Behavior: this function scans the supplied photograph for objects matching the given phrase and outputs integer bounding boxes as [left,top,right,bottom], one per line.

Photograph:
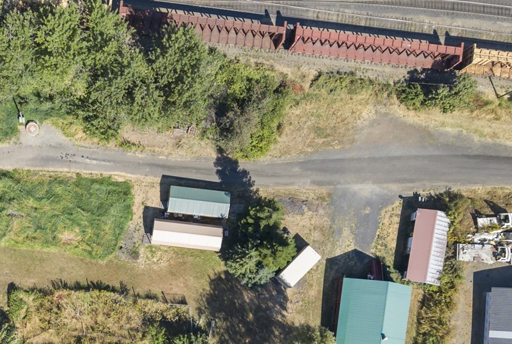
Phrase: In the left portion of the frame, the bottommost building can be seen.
[151,219,223,252]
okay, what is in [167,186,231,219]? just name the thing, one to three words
building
